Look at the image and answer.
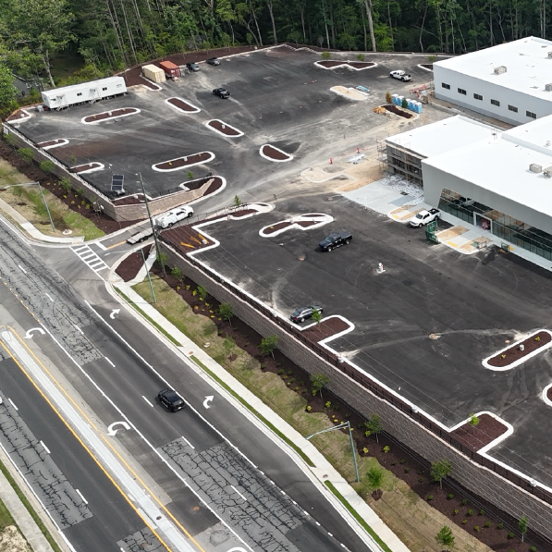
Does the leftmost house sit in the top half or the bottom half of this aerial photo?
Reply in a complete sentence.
Seen from above, the leftmost house lies in the top half of the view.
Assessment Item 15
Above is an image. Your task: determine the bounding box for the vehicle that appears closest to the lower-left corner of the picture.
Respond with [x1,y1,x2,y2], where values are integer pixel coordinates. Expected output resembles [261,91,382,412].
[158,385,184,408]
